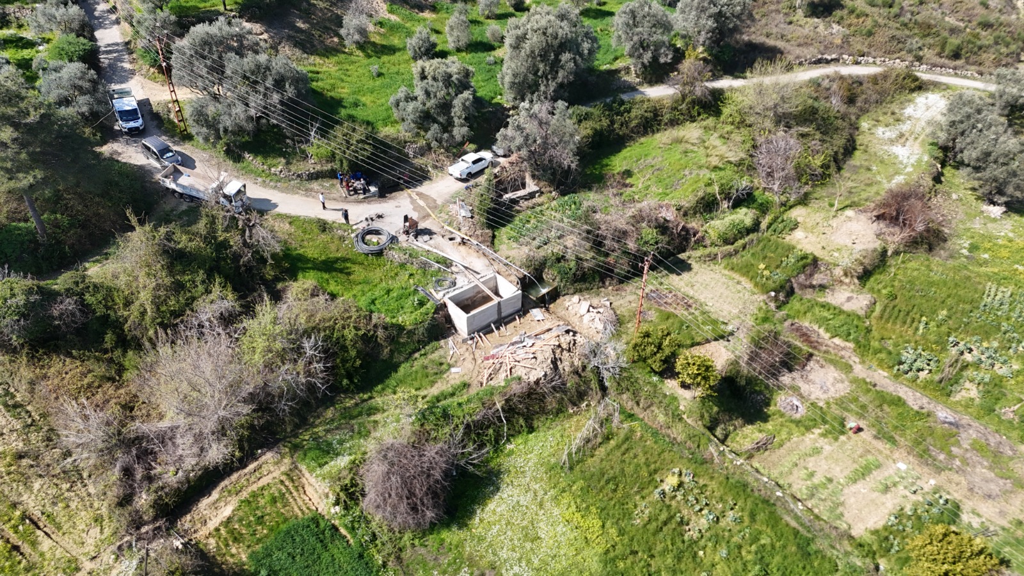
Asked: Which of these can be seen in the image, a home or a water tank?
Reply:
water tank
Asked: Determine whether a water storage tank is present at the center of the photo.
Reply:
Yes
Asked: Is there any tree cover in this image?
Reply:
Yes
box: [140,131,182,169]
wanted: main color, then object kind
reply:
gray van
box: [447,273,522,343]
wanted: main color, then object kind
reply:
gray water tank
